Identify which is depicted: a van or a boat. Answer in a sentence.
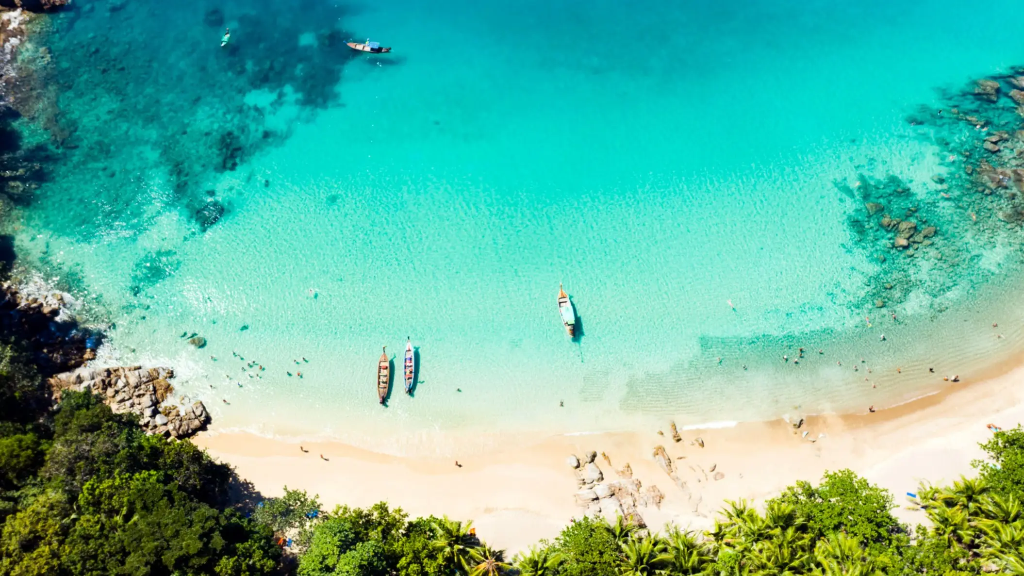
There is a boat in the scene.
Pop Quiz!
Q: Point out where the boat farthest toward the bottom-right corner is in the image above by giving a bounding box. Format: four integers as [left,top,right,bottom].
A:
[559,288,576,345]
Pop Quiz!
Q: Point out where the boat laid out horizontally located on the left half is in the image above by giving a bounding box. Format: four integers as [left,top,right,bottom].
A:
[347,40,394,56]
